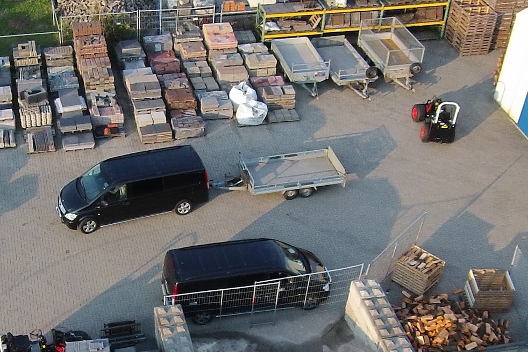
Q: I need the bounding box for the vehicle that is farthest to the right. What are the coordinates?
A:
[409,82,468,142]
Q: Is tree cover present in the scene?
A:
No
